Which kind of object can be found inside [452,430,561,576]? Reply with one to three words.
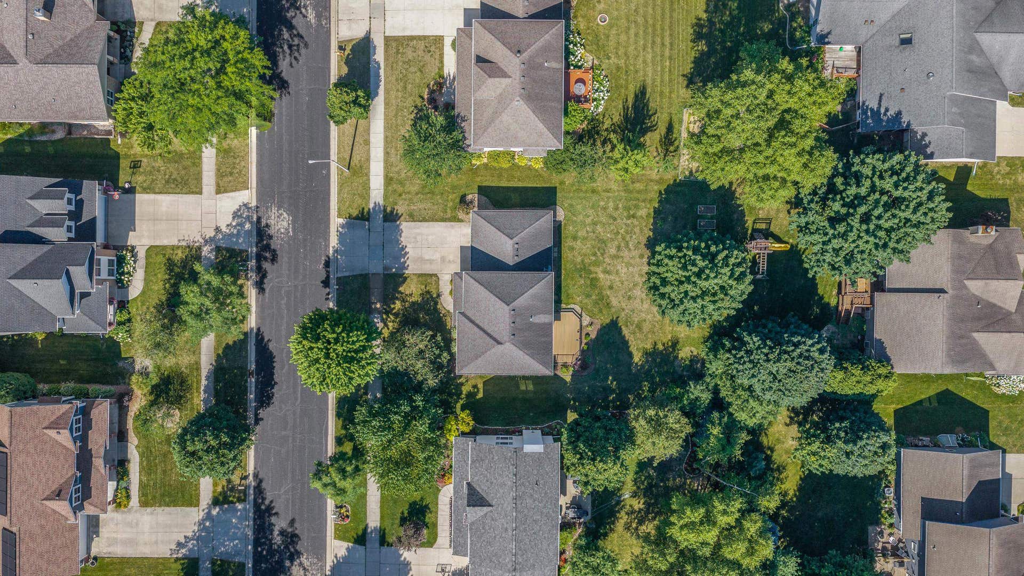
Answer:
house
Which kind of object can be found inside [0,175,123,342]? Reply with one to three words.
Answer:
house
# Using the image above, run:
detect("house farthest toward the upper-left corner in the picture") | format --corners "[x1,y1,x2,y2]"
[0,0,120,125]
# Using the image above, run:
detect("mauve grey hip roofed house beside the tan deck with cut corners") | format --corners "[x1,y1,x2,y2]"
[452,209,554,376]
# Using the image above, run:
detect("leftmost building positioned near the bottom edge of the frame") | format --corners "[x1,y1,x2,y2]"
[0,395,116,576]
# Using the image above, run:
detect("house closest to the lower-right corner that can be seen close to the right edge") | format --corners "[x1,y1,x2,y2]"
[890,435,1024,576]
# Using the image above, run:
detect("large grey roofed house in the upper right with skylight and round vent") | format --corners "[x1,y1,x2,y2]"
[806,0,1024,175]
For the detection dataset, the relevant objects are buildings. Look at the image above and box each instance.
[0,395,116,576]
[865,225,1024,376]
[890,435,1024,576]
[0,0,120,125]
[806,0,1024,175]
[452,209,554,376]
[455,0,564,168]
[0,175,123,342]
[452,430,561,576]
